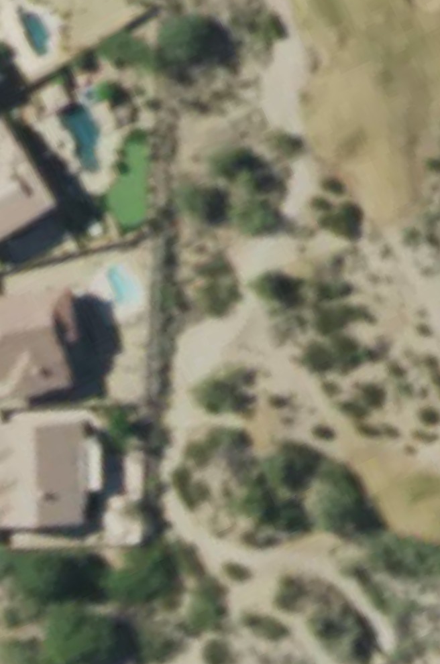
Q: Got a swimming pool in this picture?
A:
Yes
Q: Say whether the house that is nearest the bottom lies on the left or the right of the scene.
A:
left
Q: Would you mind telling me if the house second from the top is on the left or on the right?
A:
left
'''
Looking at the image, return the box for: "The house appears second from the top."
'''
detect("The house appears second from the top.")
[0,288,79,407]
